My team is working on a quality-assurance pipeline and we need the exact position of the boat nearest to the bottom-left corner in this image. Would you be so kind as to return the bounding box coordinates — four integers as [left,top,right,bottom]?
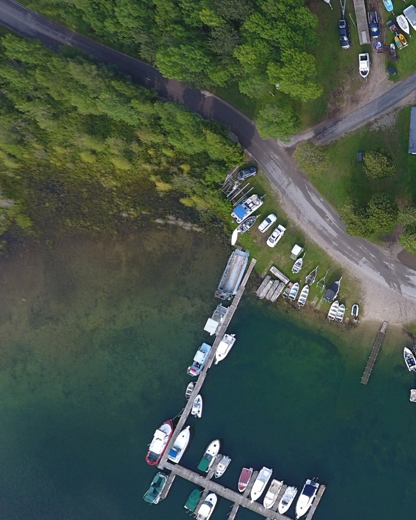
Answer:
[142,471,169,504]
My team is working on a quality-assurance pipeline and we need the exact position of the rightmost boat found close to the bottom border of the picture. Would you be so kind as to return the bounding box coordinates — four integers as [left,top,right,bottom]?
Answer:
[297,476,322,519]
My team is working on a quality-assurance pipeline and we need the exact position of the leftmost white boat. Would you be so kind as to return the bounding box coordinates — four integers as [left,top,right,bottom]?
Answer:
[145,422,174,464]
